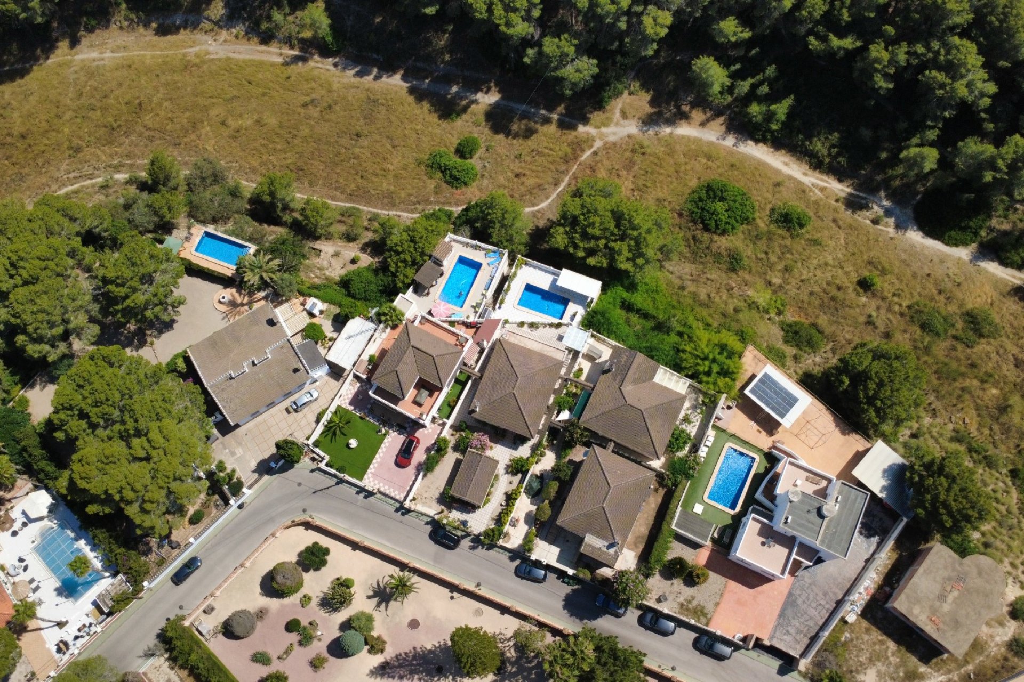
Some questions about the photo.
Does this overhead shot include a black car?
Yes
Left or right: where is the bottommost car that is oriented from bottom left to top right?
left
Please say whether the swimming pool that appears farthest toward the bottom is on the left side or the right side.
left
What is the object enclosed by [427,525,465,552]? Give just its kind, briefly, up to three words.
car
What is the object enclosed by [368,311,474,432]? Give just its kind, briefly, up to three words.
house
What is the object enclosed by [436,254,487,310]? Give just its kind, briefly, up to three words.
swimming pool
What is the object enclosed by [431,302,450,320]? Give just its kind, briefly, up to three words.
umbrella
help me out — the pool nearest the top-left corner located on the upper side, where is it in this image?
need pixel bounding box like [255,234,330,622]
[191,227,257,273]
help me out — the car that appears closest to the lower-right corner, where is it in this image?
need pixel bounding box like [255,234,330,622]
[692,632,737,664]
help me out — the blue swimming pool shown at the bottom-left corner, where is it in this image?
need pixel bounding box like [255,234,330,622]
[31,523,106,603]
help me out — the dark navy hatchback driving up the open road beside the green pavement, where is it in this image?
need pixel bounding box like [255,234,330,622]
[166,553,207,590]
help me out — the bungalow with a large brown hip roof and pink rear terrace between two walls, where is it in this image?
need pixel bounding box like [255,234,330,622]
[470,329,567,441]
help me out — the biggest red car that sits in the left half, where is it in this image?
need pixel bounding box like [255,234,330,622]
[395,432,422,470]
